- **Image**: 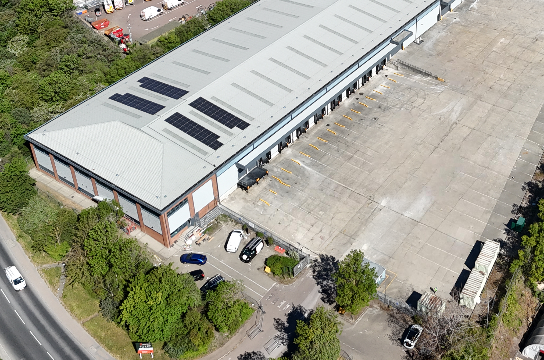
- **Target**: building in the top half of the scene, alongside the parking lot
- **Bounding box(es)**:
[22,0,464,245]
